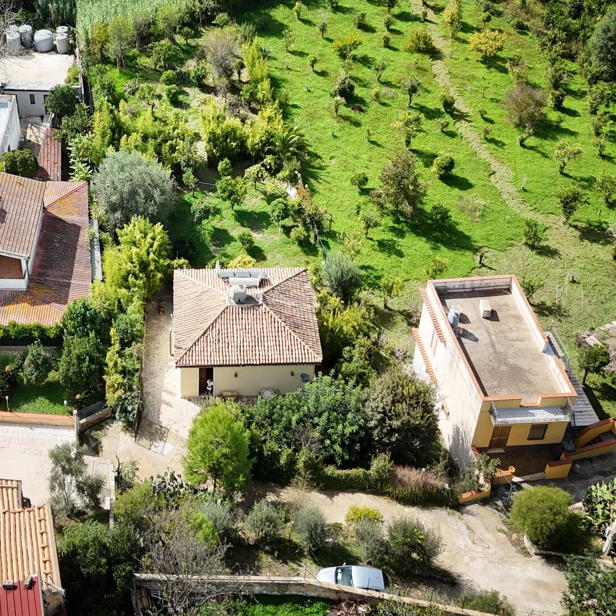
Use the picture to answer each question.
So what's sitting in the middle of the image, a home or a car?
home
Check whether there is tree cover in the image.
Yes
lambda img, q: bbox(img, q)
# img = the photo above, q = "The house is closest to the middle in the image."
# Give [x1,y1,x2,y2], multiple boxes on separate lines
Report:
[172,266,324,390]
